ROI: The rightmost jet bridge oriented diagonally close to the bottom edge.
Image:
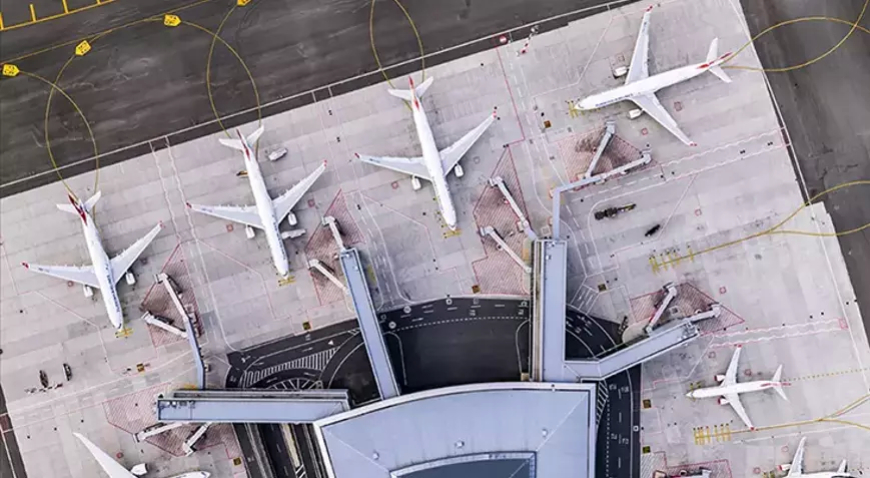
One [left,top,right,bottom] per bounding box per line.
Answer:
[184,422,217,455]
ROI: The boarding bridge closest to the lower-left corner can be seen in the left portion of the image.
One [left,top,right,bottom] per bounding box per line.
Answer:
[133,422,192,442]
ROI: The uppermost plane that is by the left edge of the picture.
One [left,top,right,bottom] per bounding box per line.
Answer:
[23,190,157,330]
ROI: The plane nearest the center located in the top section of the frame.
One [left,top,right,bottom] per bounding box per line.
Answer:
[359,87,495,229]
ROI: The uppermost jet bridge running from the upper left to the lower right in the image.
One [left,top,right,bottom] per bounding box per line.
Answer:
[489,180,531,229]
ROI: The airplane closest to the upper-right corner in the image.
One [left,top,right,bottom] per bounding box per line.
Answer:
[575,11,717,146]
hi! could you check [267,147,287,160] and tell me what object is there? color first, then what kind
white vehicle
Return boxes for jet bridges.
[133,422,192,442]
[184,422,217,455]
[644,284,675,335]
[586,125,613,180]
[489,180,531,229]
[141,314,192,340]
[307,261,351,295]
[602,152,650,183]
[684,303,721,323]
[481,229,534,274]
[155,276,193,318]
[322,216,349,252]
